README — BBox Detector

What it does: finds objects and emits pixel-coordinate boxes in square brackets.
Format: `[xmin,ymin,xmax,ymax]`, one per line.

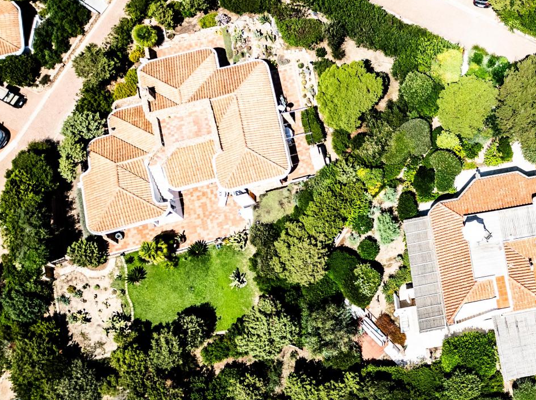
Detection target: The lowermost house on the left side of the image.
[80,46,293,234]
